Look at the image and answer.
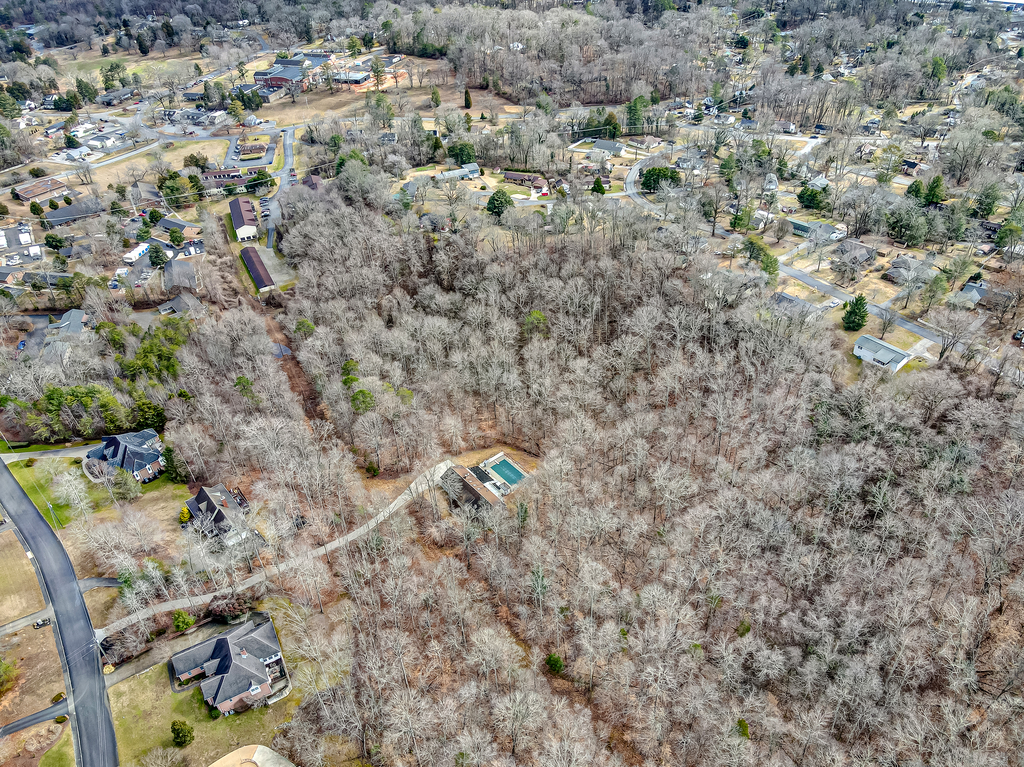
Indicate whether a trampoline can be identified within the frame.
No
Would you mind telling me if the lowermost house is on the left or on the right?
left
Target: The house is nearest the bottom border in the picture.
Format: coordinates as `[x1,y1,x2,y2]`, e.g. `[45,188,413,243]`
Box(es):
[172,610,281,711]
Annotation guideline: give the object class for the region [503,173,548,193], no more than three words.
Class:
house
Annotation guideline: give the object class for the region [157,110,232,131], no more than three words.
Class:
building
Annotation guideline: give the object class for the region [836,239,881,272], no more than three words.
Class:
house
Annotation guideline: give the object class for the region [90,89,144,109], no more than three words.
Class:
building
